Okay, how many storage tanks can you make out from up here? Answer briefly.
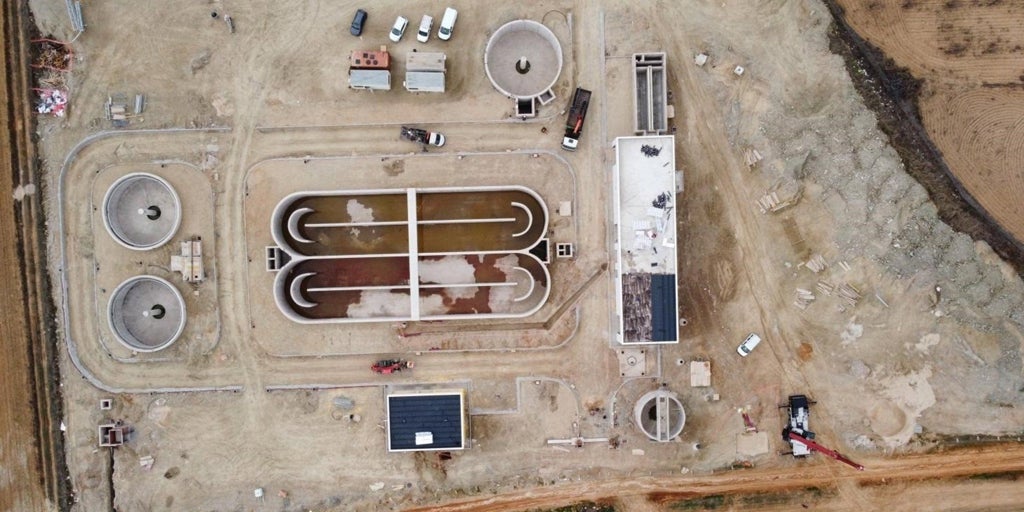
4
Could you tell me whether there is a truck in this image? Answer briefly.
Yes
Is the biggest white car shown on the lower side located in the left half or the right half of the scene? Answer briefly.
right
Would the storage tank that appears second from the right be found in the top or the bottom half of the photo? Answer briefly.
top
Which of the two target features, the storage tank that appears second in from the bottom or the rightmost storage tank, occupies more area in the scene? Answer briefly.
the storage tank that appears second in from the bottom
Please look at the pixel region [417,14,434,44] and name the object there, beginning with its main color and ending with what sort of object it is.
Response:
white car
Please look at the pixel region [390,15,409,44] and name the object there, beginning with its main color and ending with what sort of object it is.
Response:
white car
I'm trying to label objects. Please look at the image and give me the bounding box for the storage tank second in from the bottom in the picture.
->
[108,275,187,353]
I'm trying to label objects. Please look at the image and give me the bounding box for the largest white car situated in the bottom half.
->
[736,331,762,357]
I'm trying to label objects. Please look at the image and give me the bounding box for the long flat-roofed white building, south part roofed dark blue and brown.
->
[611,135,681,344]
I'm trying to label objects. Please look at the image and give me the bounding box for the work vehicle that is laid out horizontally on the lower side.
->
[373,358,411,375]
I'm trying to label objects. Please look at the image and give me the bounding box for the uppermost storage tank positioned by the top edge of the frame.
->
[484,20,563,98]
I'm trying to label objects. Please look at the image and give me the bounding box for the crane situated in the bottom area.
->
[775,393,865,470]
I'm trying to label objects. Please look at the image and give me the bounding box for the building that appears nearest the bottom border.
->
[388,388,467,452]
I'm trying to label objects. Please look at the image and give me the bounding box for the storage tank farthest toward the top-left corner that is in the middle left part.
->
[103,172,183,250]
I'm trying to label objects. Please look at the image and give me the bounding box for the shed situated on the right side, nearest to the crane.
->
[688,359,711,387]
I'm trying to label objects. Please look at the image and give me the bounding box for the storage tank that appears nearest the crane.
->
[636,391,685,441]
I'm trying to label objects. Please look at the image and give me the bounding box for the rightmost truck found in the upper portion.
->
[560,87,592,154]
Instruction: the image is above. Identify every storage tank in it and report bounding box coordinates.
[103,172,183,250]
[484,20,563,98]
[108,275,187,353]
[636,391,685,441]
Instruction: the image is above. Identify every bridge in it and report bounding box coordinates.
[407,187,419,322]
